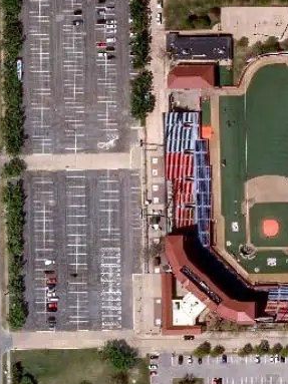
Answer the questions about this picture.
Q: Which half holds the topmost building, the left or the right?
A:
right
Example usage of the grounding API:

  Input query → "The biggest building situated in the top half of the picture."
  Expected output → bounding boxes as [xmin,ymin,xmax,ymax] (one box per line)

[166,34,234,60]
